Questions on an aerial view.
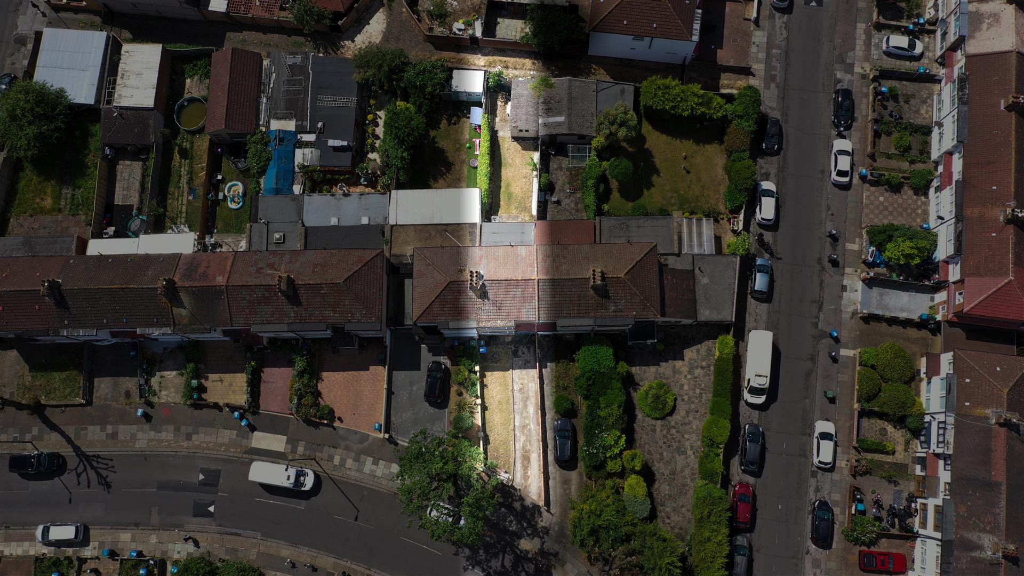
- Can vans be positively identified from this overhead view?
Yes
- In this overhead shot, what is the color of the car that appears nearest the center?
black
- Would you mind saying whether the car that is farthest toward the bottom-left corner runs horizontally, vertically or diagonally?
horizontally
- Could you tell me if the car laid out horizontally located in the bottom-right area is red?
Yes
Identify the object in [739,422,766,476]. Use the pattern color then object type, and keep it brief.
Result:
black car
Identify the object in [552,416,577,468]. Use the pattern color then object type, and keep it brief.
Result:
black car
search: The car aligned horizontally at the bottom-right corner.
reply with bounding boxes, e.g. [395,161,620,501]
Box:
[857,551,907,576]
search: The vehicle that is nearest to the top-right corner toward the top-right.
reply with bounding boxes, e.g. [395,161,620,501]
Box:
[882,34,922,58]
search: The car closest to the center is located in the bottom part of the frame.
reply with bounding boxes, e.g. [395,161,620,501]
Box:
[425,361,449,406]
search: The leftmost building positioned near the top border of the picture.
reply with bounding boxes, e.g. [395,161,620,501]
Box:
[33,28,120,115]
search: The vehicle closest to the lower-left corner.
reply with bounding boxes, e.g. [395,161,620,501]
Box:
[34,521,88,548]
